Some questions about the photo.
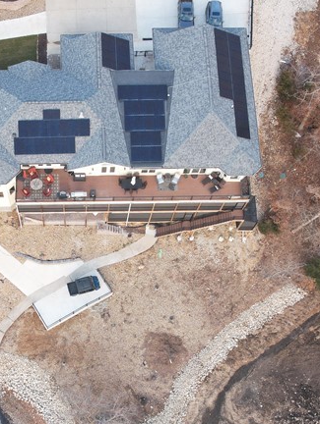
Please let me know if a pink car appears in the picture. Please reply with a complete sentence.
No, the picture doesn't show any pink car.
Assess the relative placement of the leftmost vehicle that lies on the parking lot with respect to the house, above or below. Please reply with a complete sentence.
Looking at the scene, the leftmost vehicle that lies on the parking lot is located below the house.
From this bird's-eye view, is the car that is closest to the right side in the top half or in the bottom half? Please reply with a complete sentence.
You can find the car that is closest to the right side in the top half.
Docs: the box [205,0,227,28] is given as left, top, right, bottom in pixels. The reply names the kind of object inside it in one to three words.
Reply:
car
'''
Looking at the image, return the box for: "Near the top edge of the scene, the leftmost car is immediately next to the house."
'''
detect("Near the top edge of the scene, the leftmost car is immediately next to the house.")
[177,0,197,28]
